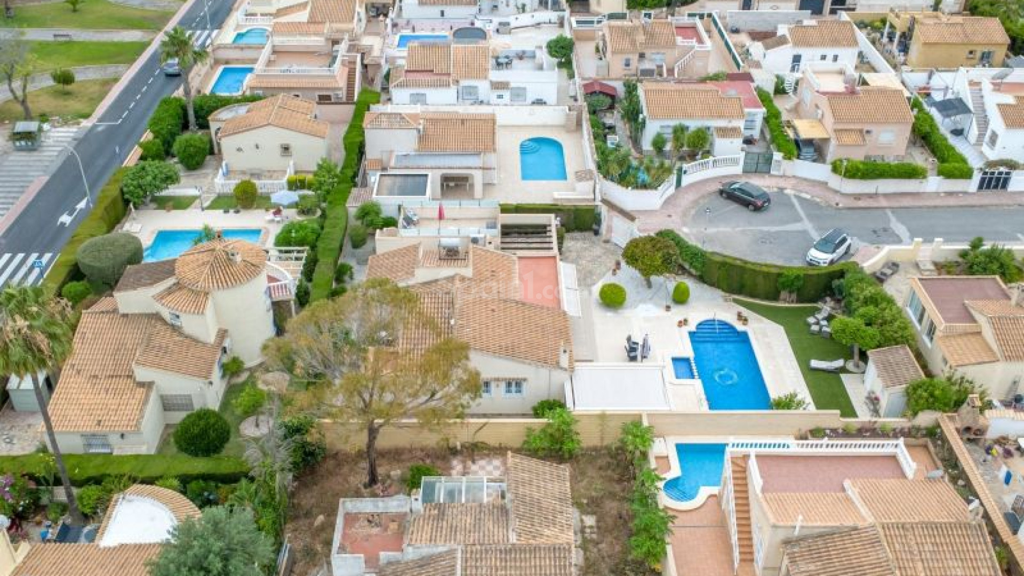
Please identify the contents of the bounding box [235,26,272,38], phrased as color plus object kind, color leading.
blue swimming pool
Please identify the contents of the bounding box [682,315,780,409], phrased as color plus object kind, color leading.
blue swimming pool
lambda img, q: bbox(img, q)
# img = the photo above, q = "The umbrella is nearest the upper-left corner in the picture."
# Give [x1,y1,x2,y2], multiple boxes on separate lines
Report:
[265,187,298,215]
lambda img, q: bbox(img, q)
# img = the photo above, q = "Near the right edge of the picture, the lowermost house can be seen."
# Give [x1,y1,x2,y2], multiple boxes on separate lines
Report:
[720,435,1004,576]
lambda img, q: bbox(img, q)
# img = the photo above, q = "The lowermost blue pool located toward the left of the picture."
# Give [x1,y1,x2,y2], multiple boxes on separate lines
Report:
[145,228,263,258]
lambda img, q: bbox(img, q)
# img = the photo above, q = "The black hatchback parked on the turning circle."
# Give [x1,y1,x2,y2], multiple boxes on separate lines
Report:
[719,181,775,210]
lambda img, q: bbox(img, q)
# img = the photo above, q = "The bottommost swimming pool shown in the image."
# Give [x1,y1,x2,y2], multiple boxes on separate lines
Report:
[651,430,742,535]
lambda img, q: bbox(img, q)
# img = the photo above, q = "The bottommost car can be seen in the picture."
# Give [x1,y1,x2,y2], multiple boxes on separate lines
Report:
[808,226,855,264]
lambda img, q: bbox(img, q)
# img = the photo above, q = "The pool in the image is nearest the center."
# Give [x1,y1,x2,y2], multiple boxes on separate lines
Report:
[520,136,568,179]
